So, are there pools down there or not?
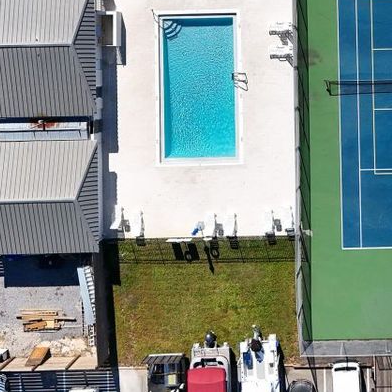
Yes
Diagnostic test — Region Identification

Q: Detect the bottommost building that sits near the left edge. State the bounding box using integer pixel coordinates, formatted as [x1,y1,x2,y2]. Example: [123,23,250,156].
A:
[0,137,110,255]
